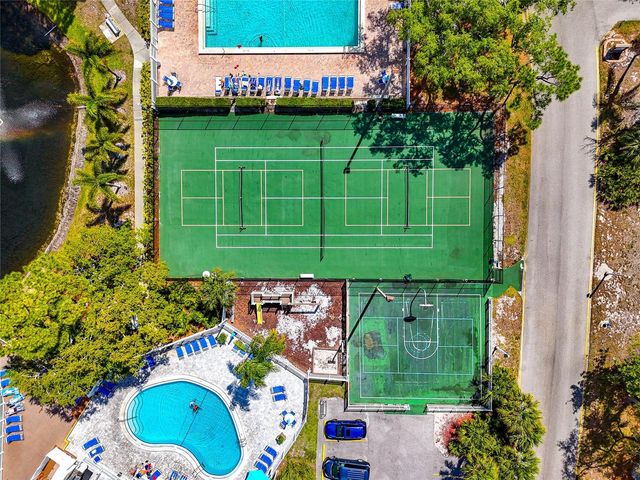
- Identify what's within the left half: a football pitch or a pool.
pool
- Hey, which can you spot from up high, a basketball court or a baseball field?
basketball court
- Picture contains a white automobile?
No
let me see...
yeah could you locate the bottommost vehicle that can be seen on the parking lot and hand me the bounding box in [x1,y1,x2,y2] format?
[325,458,370,480]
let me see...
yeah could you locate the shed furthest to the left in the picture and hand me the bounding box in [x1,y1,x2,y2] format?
[32,436,89,480]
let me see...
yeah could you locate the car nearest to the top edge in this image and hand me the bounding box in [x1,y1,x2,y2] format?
[326,420,368,442]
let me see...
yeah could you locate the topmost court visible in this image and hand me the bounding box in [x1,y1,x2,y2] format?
[158,113,492,280]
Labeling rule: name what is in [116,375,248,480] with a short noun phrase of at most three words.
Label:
swimming pool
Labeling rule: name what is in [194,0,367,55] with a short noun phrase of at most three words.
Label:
swimming pool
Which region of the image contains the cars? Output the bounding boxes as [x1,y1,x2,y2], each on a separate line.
[325,458,370,480]
[326,420,368,442]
